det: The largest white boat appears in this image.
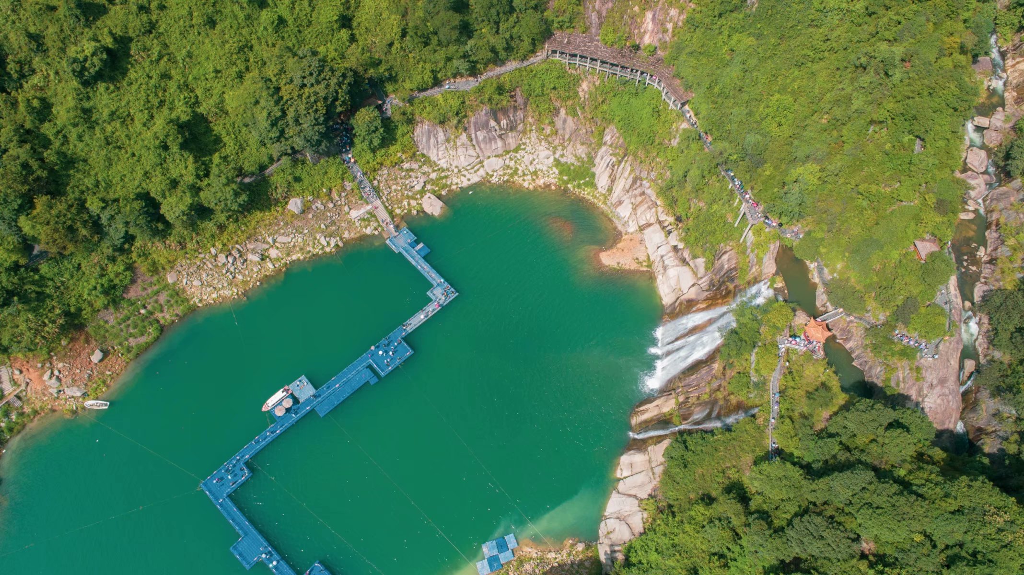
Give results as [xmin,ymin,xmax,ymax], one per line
[261,385,292,411]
